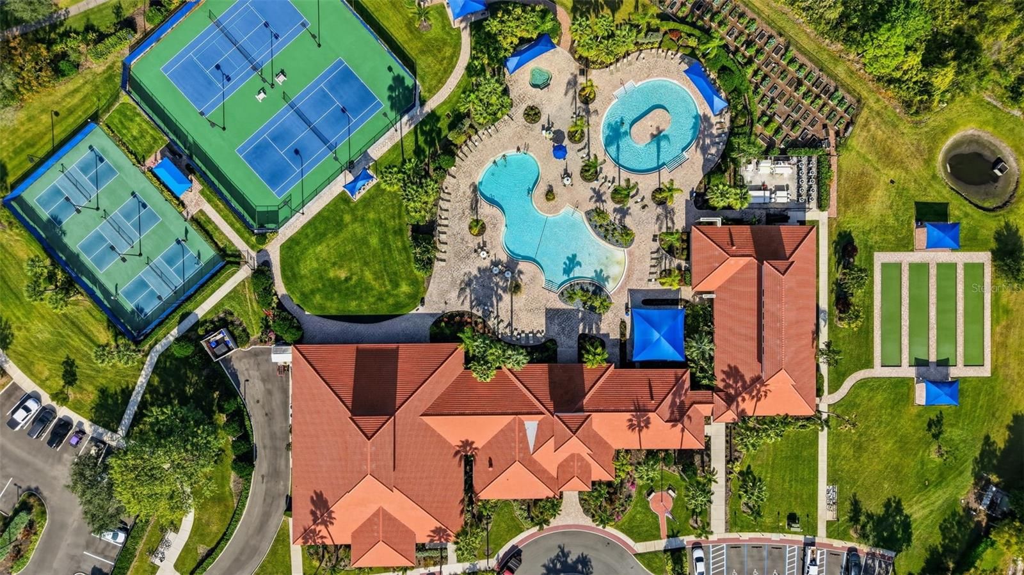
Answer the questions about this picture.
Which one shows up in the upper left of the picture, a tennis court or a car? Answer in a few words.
tennis court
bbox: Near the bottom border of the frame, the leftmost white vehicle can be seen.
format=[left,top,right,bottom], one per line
[97,528,127,547]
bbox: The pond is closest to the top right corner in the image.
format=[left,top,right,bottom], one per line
[937,128,1022,213]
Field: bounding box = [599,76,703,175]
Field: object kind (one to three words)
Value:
swimming pool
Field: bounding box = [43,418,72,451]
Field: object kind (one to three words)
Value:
truck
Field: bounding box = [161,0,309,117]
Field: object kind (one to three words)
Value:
tennis court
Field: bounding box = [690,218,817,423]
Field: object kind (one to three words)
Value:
building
